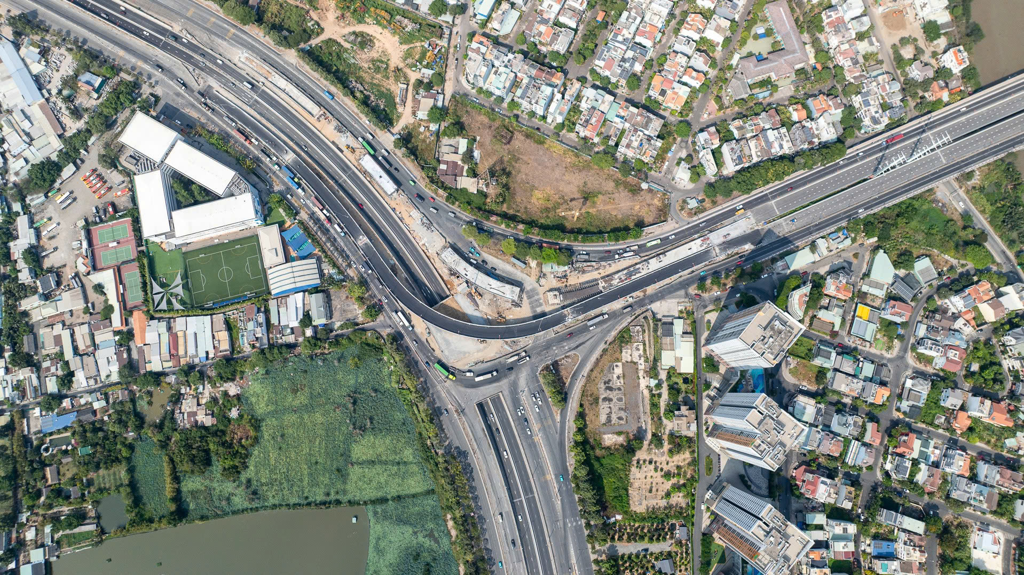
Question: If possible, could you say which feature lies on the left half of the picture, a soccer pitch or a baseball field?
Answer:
soccer pitch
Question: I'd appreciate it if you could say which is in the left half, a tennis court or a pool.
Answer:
tennis court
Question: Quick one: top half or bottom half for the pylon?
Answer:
top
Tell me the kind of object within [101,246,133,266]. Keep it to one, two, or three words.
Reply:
tennis court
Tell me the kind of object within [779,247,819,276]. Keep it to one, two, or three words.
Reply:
building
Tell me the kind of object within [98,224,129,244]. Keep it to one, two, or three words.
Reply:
tennis court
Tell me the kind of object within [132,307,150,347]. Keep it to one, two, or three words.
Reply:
house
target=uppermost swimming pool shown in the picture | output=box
[730,368,768,394]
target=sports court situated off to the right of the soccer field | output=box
[283,224,319,262]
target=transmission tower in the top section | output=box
[471,172,492,196]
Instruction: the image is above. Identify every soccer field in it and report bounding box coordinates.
[182,237,269,310]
